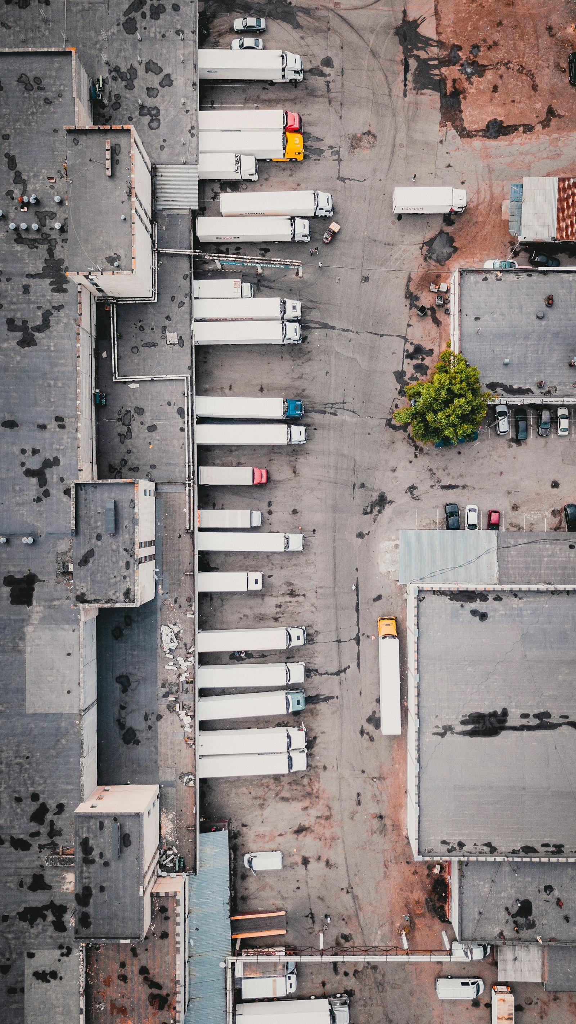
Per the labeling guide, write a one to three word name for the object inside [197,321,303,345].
truck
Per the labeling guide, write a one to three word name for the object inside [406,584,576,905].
warehouse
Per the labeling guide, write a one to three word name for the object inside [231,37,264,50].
vehicle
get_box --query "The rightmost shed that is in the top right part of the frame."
[515,177,576,249]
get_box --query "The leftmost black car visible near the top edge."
[199,11,212,41]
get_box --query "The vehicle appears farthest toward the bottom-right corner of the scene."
[490,981,514,1024]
